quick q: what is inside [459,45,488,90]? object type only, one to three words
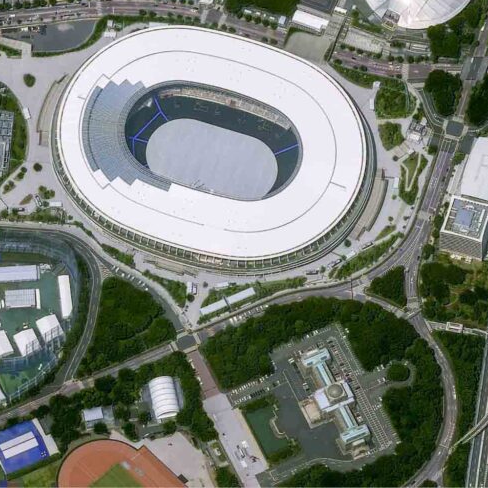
bridge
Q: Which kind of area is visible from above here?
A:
sports ground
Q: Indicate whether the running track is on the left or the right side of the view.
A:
left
